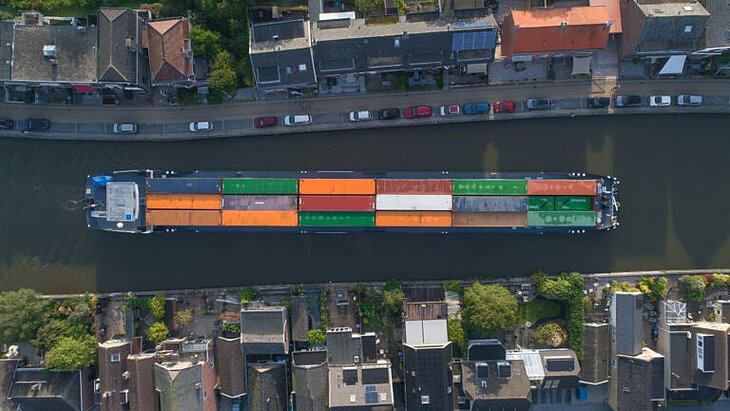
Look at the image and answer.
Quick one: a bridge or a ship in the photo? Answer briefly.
ship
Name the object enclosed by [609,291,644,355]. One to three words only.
house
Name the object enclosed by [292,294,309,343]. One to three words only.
shed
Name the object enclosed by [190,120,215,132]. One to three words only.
vehicle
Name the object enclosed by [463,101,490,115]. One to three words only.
vehicle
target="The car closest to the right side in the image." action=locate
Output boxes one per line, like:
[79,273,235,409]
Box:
[674,93,703,106]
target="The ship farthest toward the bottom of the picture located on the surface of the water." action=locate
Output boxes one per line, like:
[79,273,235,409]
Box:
[73,169,620,234]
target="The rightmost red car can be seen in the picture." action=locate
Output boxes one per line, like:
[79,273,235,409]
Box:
[493,100,516,113]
